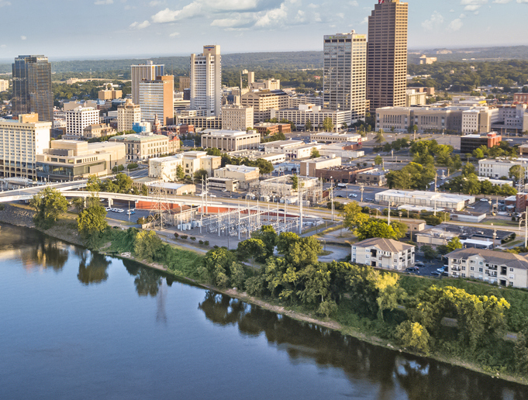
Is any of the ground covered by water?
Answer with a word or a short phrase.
Yes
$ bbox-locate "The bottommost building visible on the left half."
[167,207,198,226]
